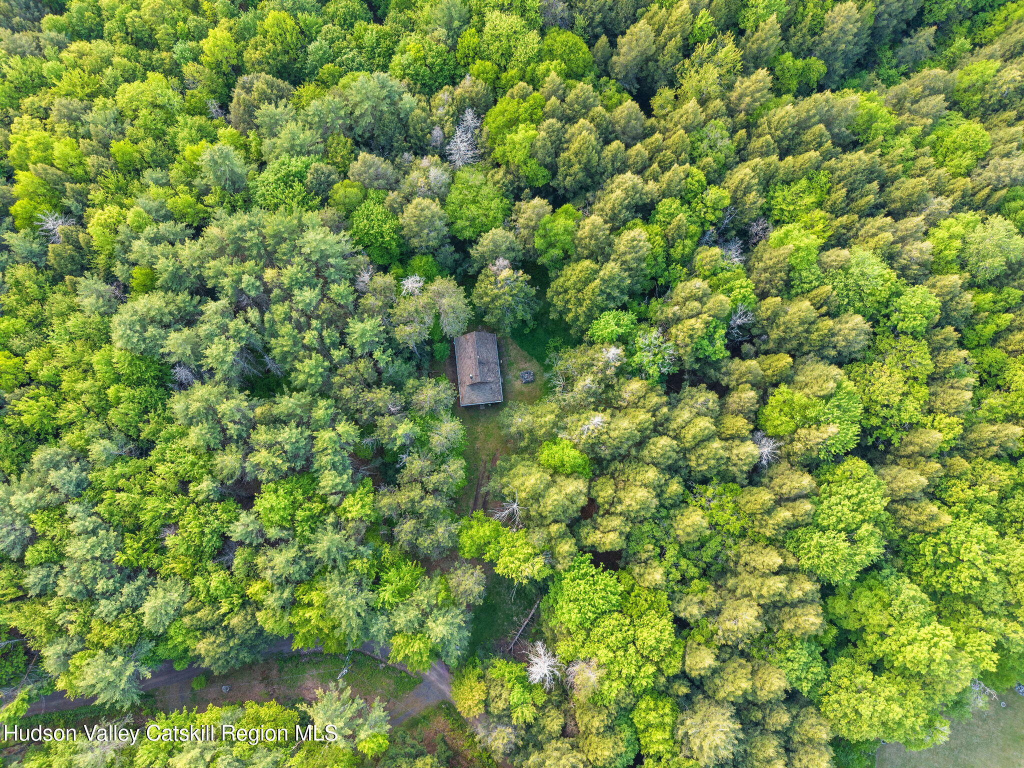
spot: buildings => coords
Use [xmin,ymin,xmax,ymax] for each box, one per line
[454,332,503,408]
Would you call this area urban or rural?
rural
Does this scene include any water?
No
